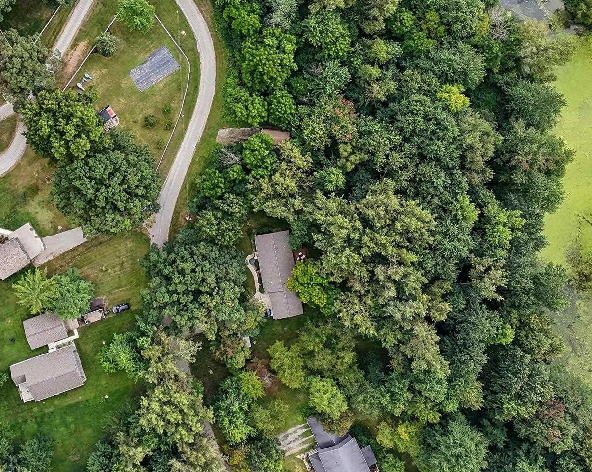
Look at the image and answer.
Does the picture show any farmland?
No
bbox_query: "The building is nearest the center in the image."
[254,229,308,320]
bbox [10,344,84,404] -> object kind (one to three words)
house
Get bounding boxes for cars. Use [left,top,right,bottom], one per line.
[261,304,273,322]
[113,303,129,314]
